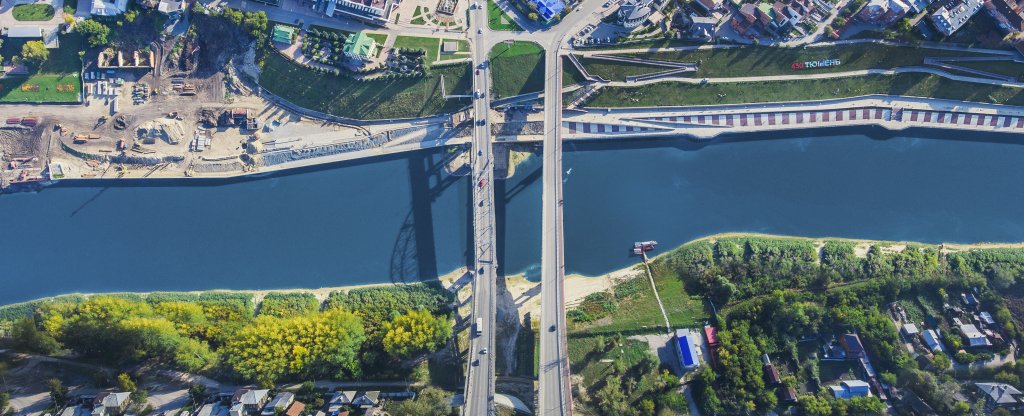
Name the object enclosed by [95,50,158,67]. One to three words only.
building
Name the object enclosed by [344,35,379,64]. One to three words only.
house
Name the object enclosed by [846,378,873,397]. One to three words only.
house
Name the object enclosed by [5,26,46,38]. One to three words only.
building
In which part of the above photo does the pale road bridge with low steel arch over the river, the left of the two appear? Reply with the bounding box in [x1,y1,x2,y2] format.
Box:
[463,36,497,416]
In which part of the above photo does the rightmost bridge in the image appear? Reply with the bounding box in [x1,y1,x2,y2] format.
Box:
[538,46,572,416]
